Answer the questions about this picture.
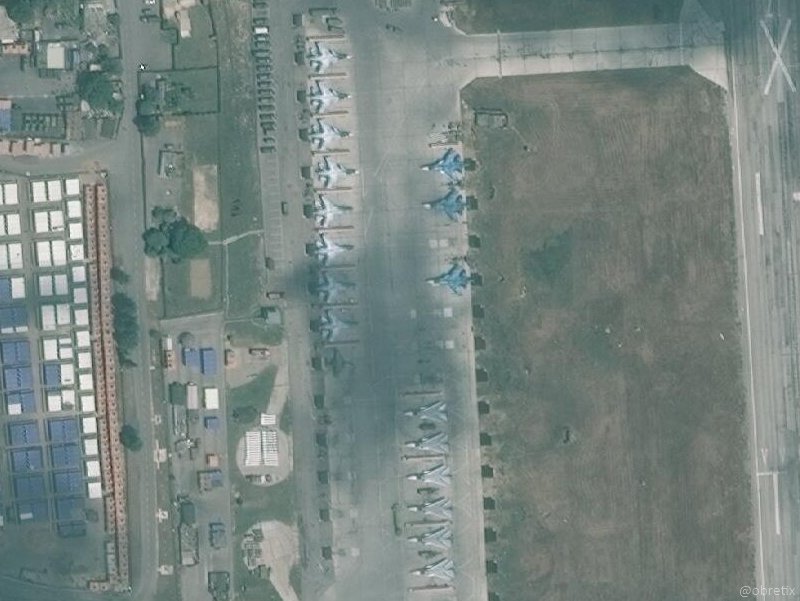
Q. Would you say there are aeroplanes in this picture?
Yes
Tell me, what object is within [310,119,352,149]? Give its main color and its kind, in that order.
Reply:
white airplane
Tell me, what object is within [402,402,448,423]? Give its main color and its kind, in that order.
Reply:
gray airplane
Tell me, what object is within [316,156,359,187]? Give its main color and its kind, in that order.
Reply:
white airplane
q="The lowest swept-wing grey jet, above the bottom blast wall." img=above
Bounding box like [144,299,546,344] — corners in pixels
[409,561,455,582]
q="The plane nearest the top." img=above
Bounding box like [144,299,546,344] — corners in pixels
[308,41,350,73]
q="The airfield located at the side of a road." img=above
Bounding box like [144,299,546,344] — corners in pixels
[253,0,800,601]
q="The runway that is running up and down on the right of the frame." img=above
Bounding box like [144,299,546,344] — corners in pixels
[728,0,800,601]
